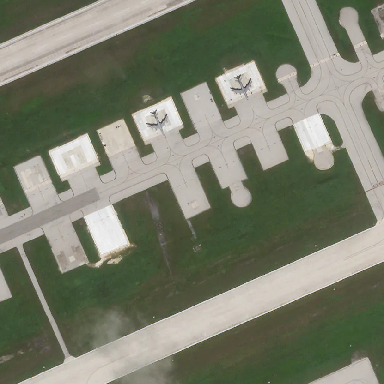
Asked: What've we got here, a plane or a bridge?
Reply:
plane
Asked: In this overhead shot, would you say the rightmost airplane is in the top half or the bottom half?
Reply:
top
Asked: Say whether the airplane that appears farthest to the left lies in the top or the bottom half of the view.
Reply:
top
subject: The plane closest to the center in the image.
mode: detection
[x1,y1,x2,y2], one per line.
[148,112,169,135]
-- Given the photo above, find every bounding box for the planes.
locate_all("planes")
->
[232,77,253,100]
[148,112,169,135]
